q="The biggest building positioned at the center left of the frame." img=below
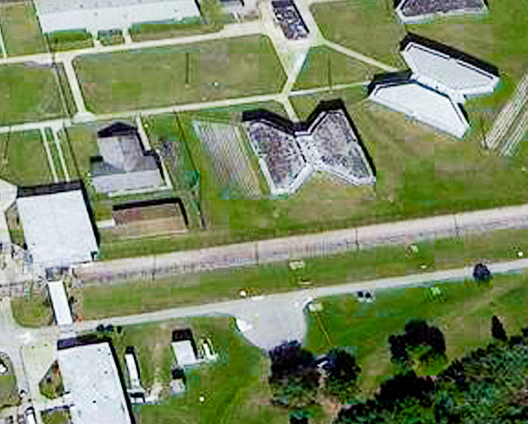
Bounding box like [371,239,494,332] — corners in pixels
[16,190,99,275]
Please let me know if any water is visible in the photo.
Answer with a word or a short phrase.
No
